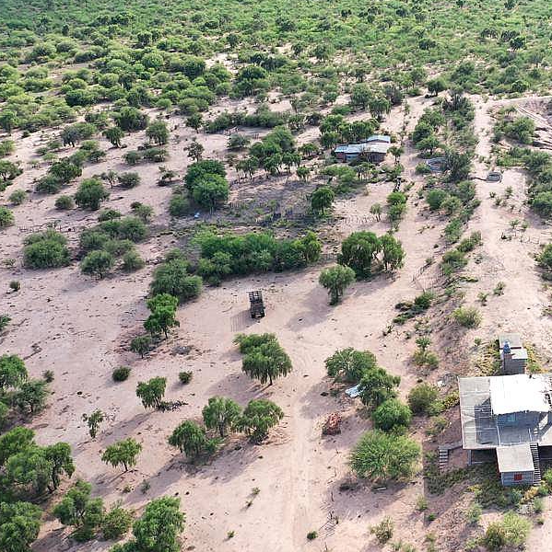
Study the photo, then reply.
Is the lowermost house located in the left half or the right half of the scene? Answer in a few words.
right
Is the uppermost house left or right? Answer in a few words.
right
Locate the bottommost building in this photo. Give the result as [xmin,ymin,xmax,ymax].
[439,371,552,484]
